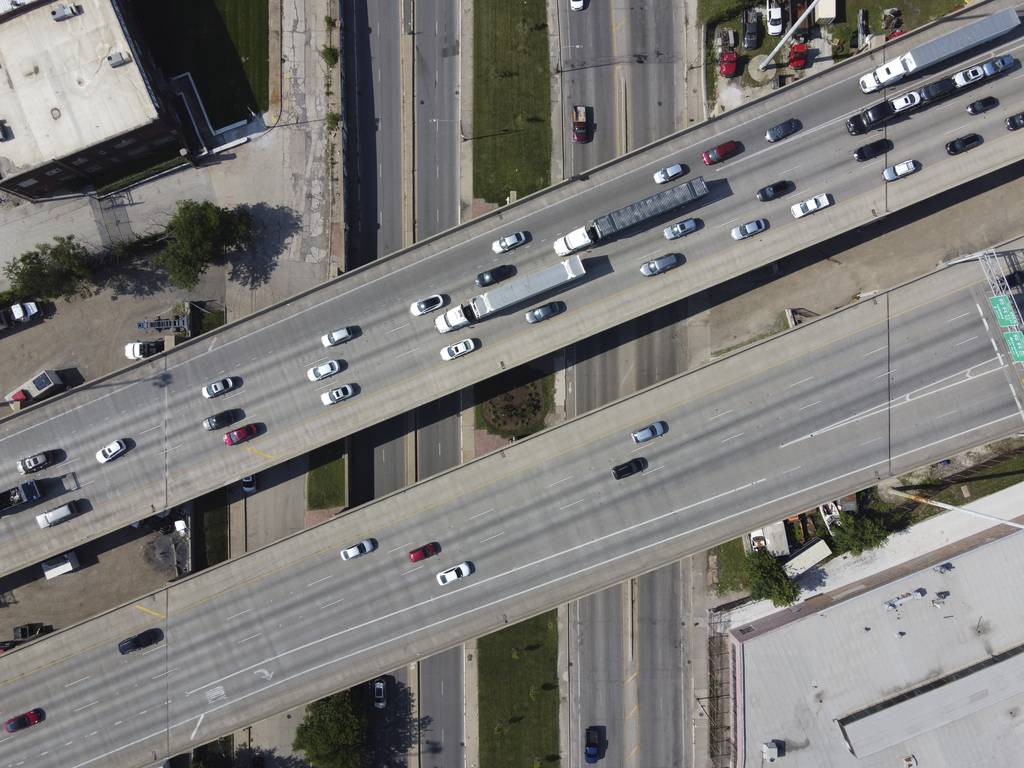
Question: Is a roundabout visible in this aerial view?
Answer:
No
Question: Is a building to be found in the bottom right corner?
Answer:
Yes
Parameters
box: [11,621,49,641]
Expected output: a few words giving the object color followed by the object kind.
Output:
black vehicle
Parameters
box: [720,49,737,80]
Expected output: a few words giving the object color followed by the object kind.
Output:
red car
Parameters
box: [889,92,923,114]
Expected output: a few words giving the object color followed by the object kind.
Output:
white car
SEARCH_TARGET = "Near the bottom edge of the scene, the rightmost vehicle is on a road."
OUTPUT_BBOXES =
[584,723,600,762]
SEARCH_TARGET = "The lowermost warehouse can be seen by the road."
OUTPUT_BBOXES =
[728,513,1024,768]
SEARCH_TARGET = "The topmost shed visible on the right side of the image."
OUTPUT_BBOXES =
[835,491,856,510]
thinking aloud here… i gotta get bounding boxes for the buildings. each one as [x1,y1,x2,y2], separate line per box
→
[728,513,1024,768]
[0,0,189,217]
[835,491,856,510]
